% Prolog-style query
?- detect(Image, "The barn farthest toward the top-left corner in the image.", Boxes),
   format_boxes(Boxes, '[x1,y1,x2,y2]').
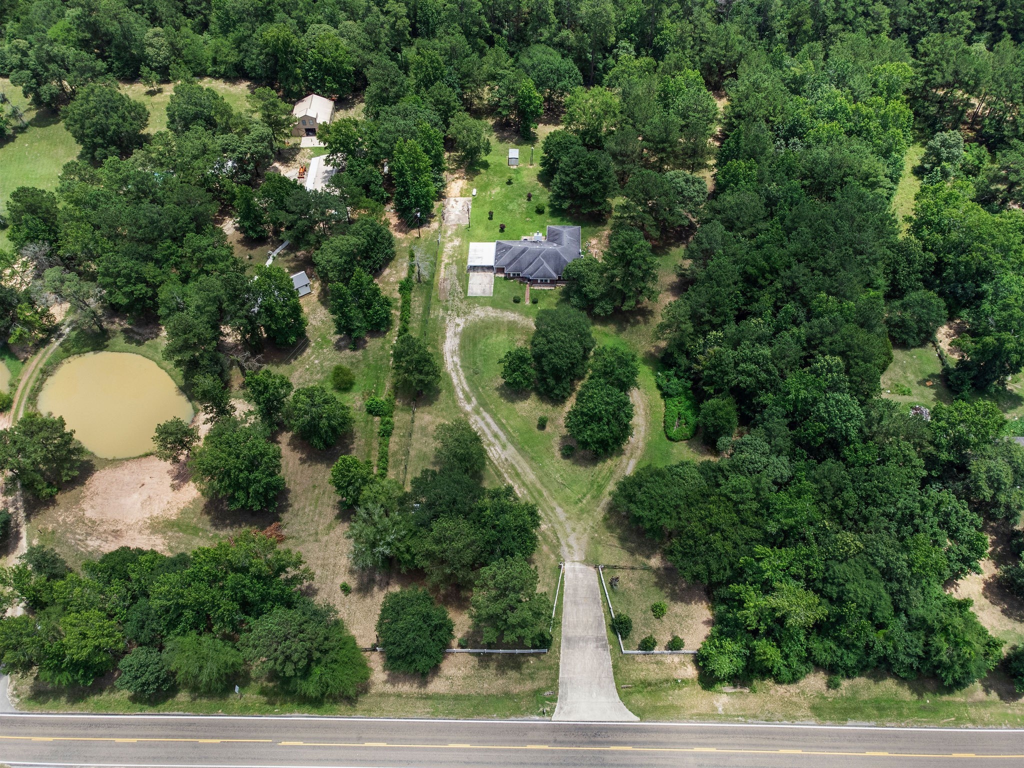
[289,92,334,137]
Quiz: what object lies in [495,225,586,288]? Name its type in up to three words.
house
